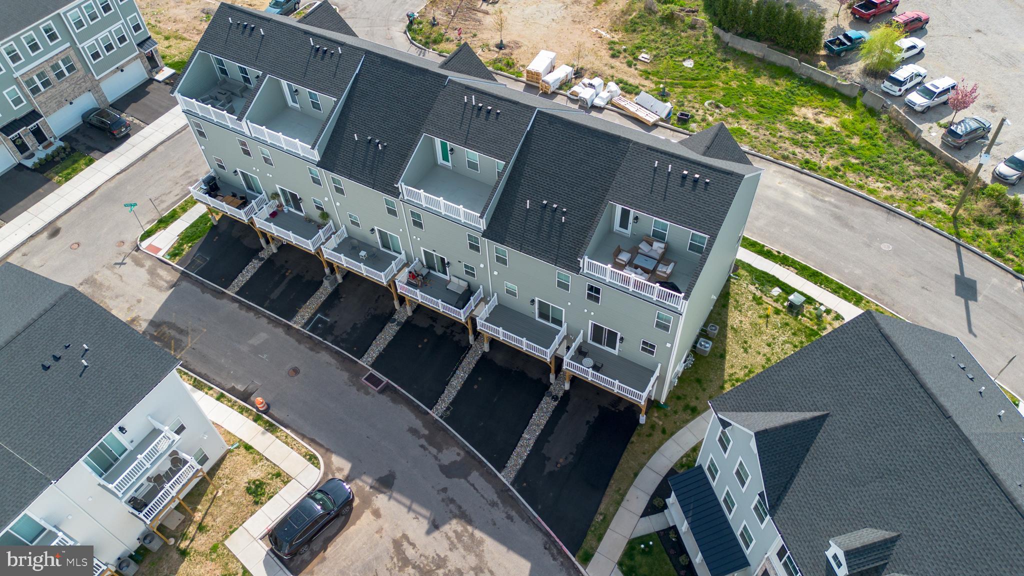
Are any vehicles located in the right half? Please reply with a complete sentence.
Yes, looking in the right half, one can make out a vehicle.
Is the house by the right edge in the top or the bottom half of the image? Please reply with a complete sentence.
It is in the bottom half that the house by the right edge appears.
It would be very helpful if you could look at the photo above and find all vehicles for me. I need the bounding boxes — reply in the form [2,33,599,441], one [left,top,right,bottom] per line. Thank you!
[881,61,934,97]
[81,105,131,137]
[901,74,961,115]
[883,7,936,35]
[265,480,356,563]
[823,27,880,57]
[993,146,1024,182]
[848,0,905,23]
[940,114,998,150]
[882,34,930,63]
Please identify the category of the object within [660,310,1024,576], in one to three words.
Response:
house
